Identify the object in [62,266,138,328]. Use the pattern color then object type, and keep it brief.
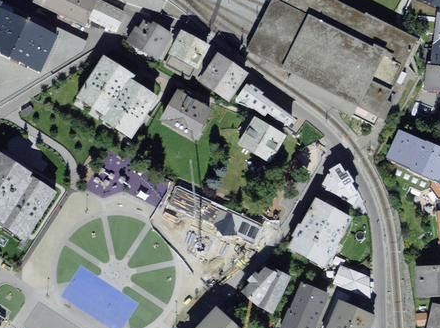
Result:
blue sports court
